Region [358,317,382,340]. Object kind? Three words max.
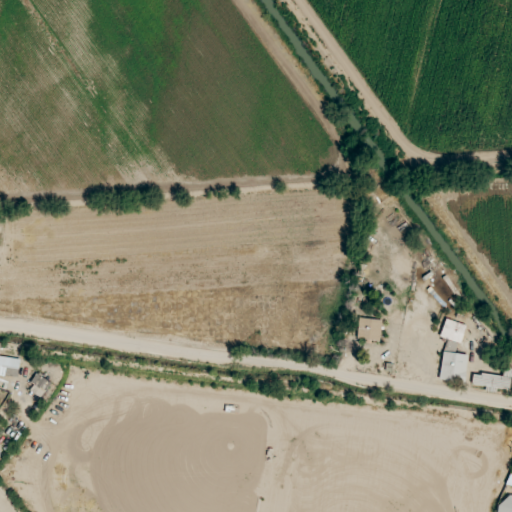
house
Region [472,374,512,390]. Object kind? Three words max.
house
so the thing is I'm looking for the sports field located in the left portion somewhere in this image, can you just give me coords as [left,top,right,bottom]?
[92,398,268,512]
